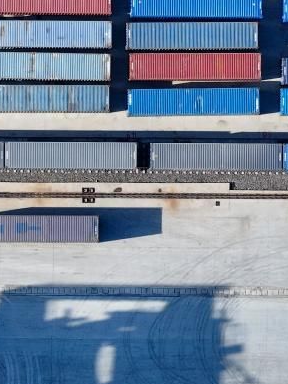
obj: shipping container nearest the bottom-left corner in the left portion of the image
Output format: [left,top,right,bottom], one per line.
[0,215,98,242]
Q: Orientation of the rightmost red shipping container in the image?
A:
from left to right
